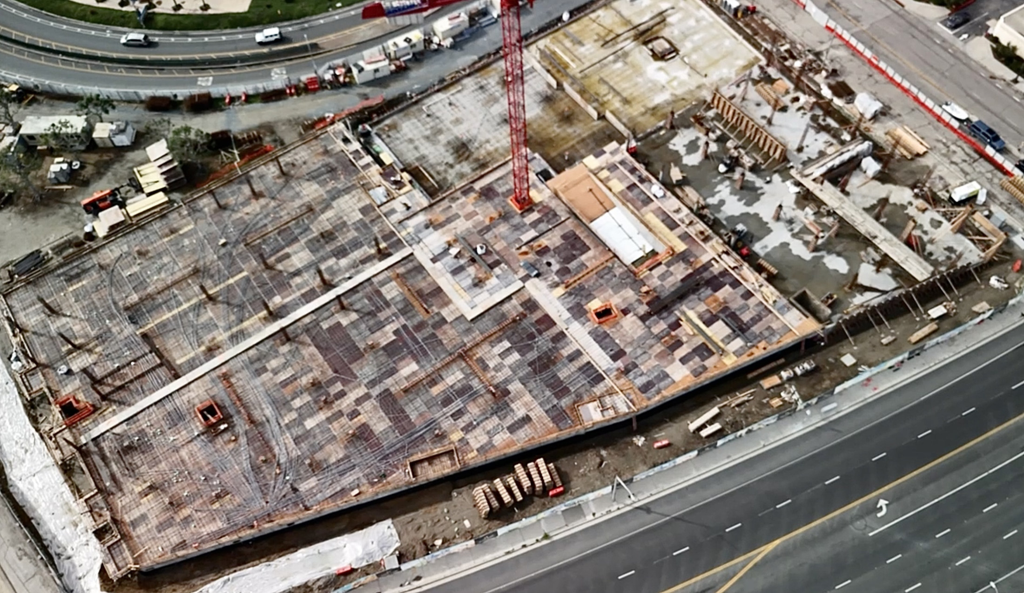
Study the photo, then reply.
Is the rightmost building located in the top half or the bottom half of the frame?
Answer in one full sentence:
You can find the rightmost building in the top half.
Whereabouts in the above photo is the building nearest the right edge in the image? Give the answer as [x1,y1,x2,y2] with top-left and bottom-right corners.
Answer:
[982,2,1024,60]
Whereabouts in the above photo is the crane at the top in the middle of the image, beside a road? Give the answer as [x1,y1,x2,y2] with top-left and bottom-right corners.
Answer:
[360,0,540,217]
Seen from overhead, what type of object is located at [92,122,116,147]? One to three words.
building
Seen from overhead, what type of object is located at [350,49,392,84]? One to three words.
building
